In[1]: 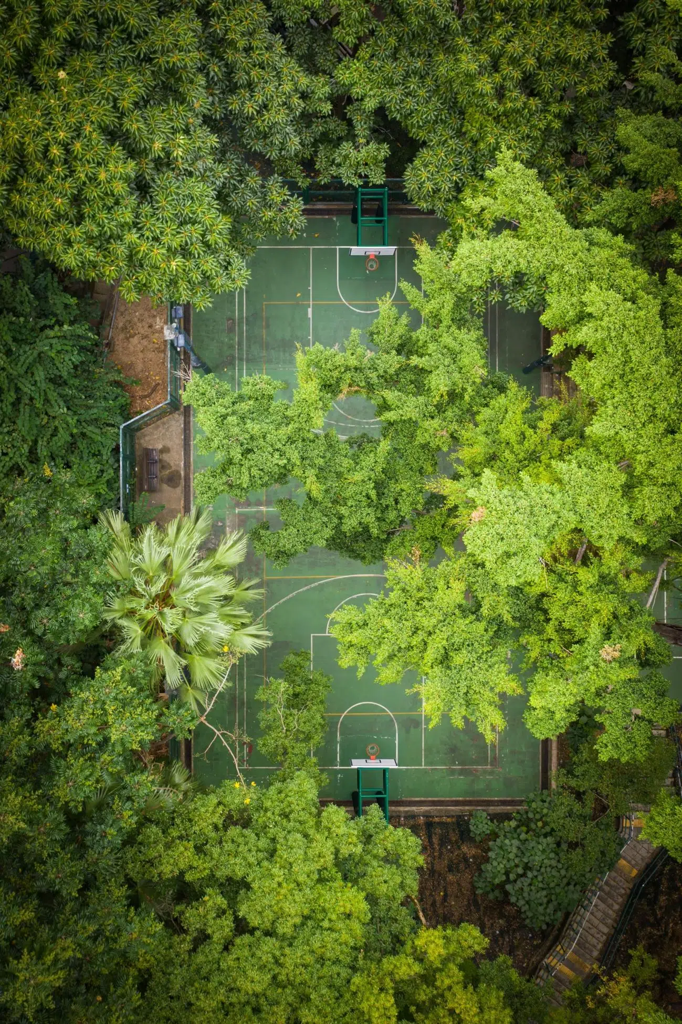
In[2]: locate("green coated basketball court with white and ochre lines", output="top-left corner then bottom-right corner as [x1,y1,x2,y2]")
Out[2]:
[192,216,542,800]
